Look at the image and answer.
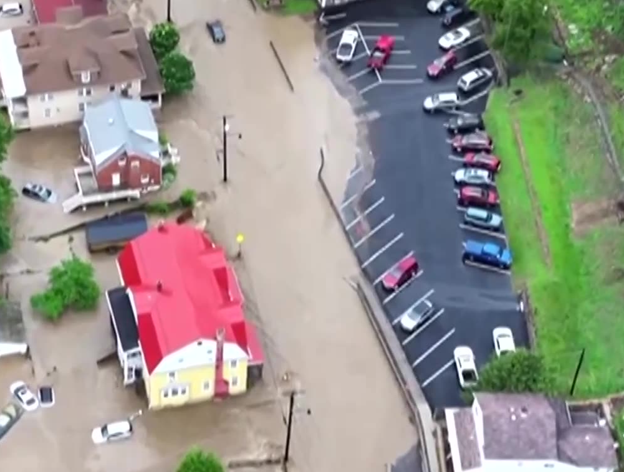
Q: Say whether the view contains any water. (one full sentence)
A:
Yes, water shows up in the scene.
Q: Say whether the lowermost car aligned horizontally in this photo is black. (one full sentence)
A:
No, the lowermost car aligned horizontally is white.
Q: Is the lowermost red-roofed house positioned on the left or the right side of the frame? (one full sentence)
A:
The lowermost red-roofed house sits on the left side.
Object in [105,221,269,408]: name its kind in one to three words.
house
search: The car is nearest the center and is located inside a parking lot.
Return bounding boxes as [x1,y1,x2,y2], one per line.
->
[382,256,420,289]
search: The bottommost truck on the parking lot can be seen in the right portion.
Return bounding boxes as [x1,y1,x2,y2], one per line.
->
[452,345,480,391]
